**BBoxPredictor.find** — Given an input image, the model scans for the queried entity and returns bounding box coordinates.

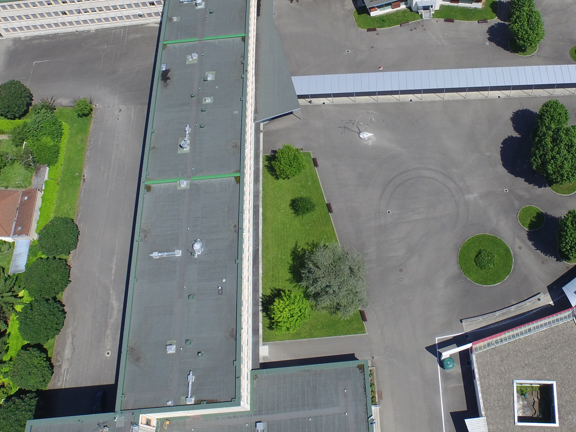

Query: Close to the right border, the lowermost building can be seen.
[470,307,576,432]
